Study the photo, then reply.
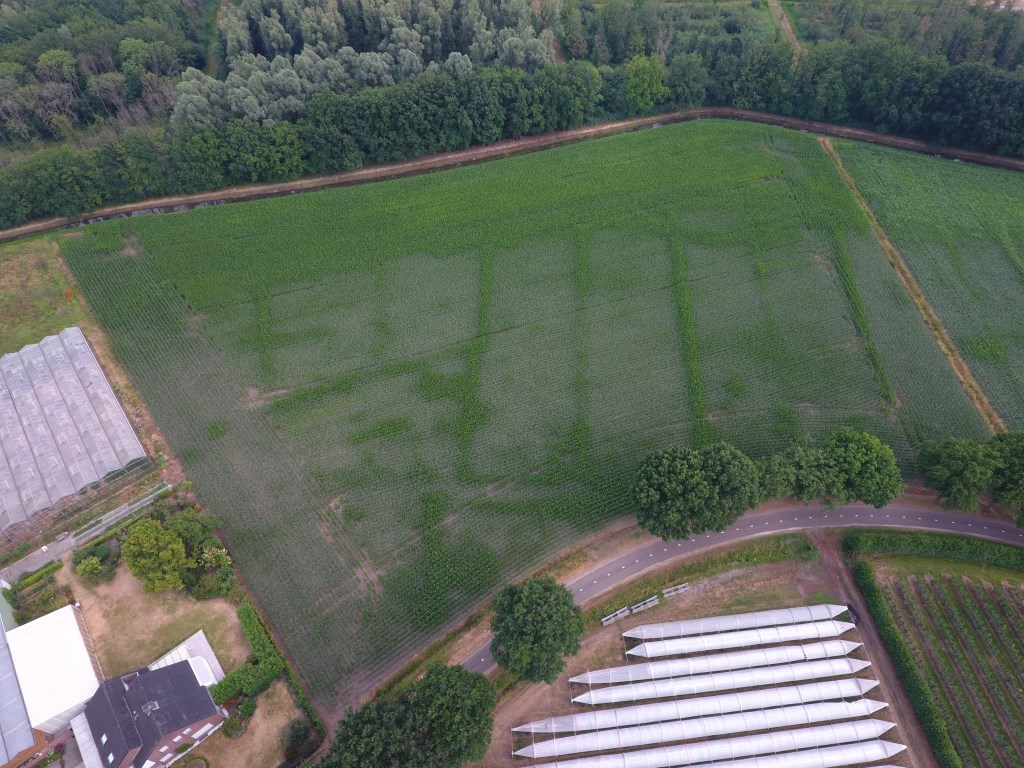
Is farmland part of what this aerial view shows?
Yes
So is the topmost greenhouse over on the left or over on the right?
left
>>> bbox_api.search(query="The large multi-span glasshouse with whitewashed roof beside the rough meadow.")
[0,326,154,549]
